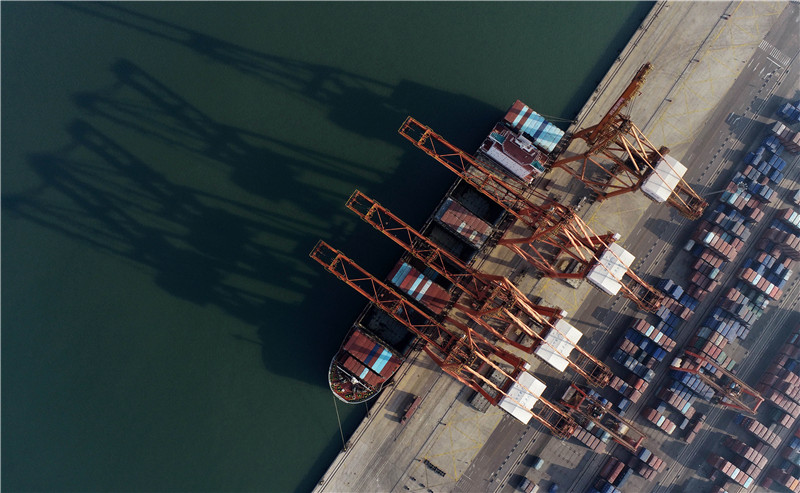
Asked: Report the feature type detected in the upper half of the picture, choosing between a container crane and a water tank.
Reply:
container crane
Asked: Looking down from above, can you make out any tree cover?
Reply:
No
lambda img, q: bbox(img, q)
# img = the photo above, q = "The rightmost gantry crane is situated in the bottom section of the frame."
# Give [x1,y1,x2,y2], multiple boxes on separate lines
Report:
[667,345,765,415]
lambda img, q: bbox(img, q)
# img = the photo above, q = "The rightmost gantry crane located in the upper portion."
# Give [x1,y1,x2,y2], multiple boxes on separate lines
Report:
[545,59,707,221]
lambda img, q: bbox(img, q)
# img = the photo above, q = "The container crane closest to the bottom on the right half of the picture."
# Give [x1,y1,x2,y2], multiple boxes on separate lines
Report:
[559,380,646,452]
